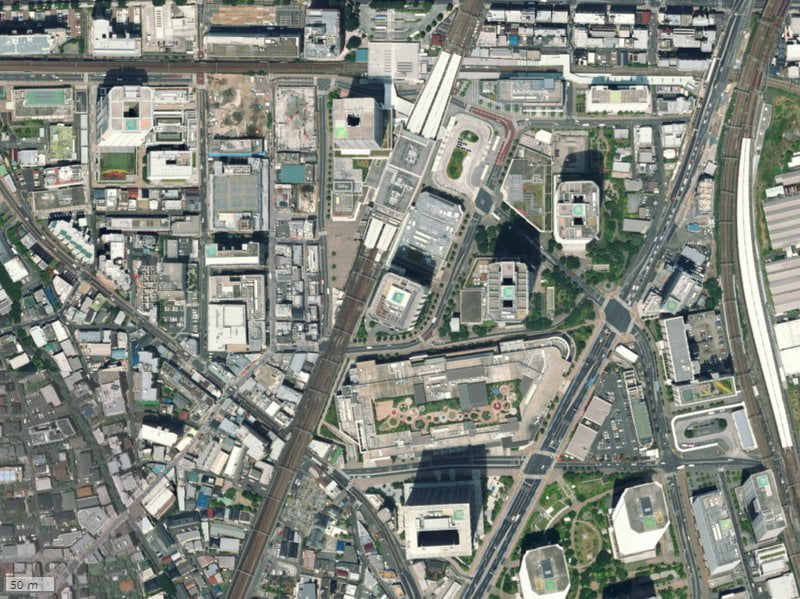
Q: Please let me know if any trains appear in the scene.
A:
No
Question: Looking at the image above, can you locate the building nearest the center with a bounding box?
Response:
[366,272,427,339]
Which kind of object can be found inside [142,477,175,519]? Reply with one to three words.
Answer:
shed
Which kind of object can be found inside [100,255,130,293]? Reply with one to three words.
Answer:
building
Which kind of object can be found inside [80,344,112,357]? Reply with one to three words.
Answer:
building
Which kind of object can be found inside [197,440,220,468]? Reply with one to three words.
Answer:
house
